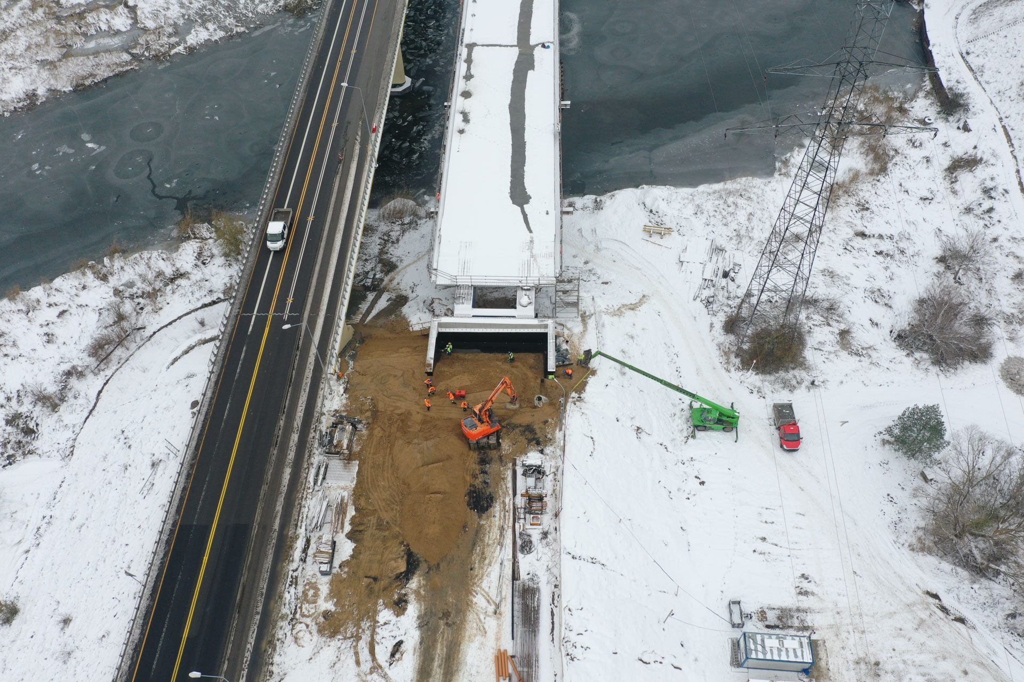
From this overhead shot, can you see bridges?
Yes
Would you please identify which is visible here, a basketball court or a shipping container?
shipping container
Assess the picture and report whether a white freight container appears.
Yes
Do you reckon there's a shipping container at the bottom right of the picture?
Yes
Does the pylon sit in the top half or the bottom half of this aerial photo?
top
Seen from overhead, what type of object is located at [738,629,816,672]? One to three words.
shipping container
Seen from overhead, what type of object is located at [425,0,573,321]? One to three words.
bridge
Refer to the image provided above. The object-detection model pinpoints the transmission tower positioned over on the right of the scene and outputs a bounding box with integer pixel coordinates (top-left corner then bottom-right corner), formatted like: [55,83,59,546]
[721,0,950,354]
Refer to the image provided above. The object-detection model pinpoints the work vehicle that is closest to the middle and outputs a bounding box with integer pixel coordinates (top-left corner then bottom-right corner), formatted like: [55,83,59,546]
[463,377,519,456]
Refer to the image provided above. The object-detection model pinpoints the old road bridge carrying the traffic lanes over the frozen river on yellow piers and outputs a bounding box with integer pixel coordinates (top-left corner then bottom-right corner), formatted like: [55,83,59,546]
[225,0,409,376]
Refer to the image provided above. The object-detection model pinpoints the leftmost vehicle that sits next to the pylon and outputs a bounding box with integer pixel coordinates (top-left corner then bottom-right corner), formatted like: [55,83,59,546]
[576,349,747,445]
